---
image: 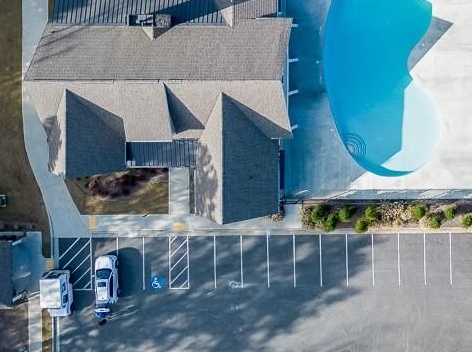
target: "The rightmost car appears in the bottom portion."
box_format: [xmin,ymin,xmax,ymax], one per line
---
[91,253,119,311]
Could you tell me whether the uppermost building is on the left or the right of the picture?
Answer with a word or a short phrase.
left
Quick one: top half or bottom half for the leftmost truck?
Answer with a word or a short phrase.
bottom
